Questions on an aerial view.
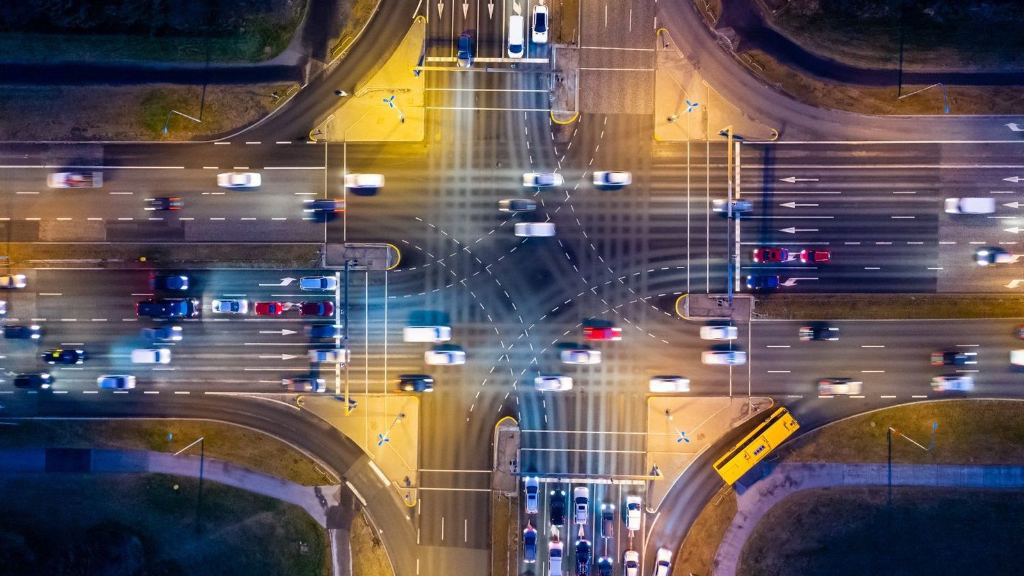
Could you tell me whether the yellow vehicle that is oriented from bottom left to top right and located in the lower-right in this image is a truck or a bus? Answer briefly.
bus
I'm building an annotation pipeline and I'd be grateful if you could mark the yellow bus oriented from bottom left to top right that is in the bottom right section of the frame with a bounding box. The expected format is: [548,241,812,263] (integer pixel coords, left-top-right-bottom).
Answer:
[713,406,801,484]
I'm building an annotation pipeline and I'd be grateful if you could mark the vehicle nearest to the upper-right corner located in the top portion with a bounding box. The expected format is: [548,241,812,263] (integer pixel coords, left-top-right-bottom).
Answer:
[944,196,996,214]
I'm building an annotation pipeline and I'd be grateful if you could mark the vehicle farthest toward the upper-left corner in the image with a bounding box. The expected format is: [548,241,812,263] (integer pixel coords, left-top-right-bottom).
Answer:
[50,170,102,189]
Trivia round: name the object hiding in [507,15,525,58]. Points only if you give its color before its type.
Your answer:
white vehicle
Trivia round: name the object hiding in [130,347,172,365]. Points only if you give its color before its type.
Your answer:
white vehicle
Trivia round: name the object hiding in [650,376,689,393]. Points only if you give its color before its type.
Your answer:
white car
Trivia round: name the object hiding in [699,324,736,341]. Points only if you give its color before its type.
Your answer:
white car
